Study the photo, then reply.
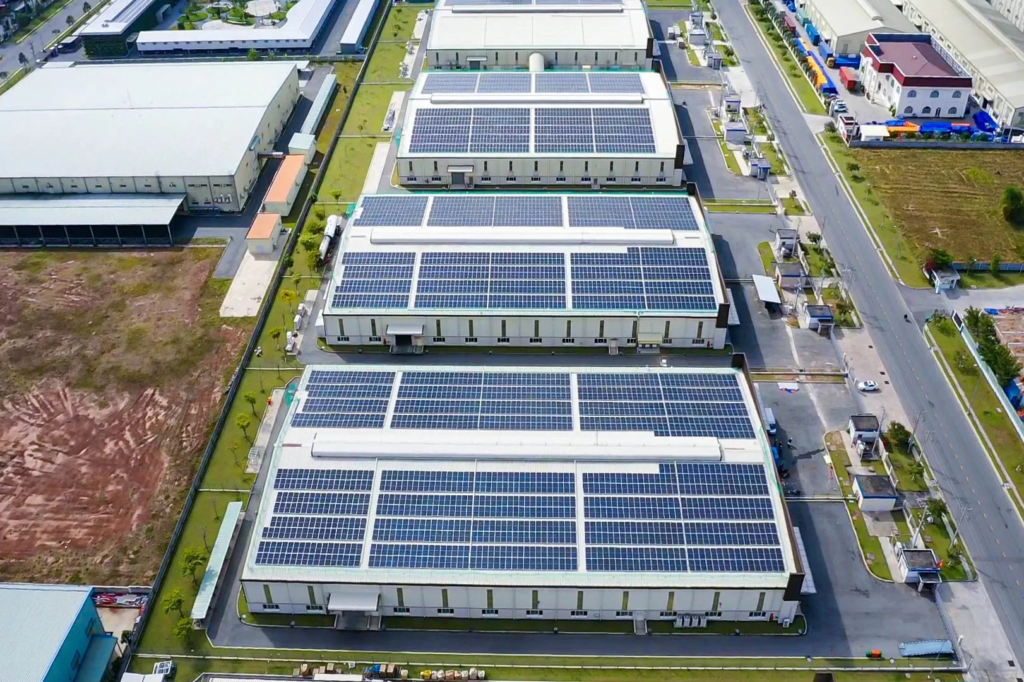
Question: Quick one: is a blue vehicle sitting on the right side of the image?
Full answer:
Yes, a blue vehicle is visible on the right side of the image.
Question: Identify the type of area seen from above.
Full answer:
This looks like an industrial area.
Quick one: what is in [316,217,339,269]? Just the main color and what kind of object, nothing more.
white truck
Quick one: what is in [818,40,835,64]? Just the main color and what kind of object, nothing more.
blue vehicle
